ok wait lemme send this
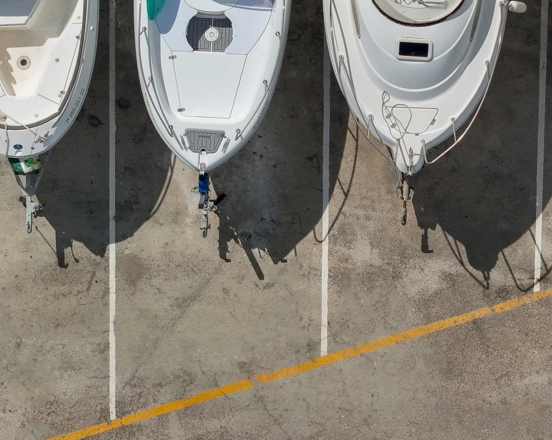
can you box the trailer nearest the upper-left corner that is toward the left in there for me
[6,151,52,248]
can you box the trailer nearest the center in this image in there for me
[188,169,224,238]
